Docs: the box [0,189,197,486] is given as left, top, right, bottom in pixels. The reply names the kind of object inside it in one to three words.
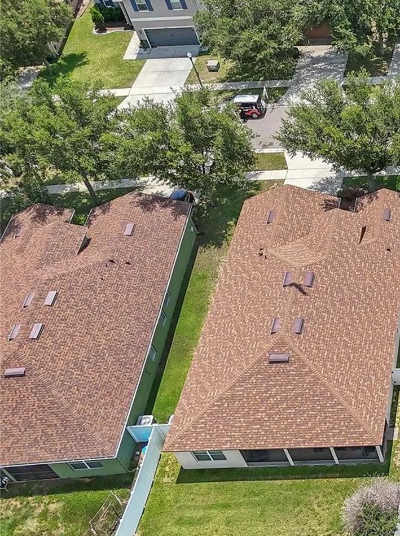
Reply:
house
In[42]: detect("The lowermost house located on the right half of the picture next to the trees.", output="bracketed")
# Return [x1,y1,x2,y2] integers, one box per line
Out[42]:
[161,184,400,467]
